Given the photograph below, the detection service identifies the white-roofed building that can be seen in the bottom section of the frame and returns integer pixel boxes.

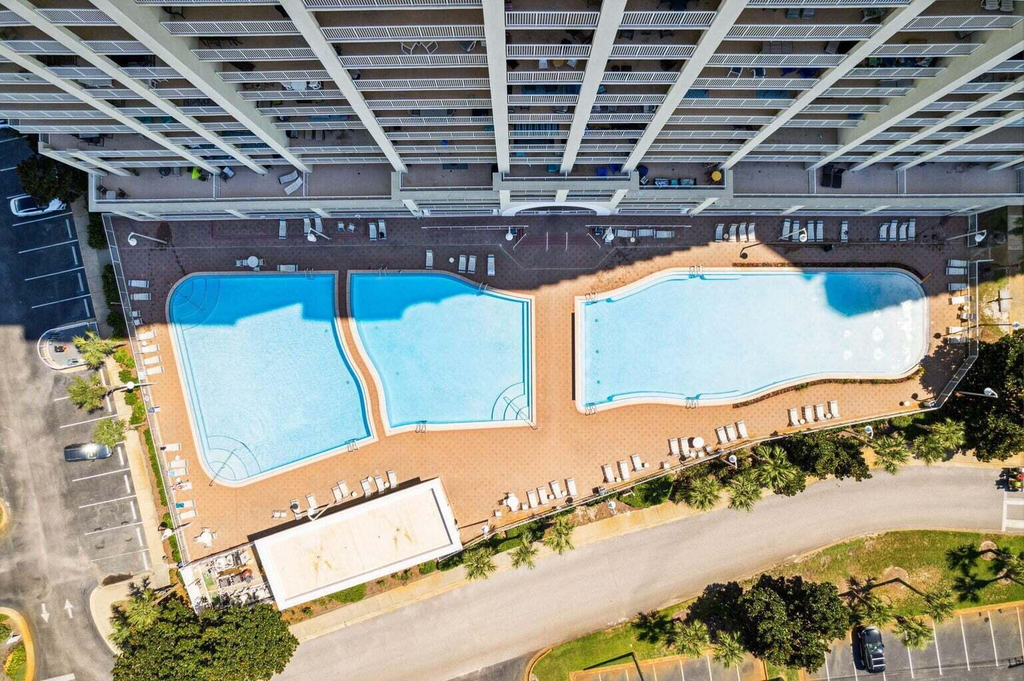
[254,475,463,610]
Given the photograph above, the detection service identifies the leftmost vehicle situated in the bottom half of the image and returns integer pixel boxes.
[64,440,120,464]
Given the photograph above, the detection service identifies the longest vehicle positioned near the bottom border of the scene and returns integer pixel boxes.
[856,619,885,673]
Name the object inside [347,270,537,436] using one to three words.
swimming pool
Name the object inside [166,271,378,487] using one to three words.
swimming pool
